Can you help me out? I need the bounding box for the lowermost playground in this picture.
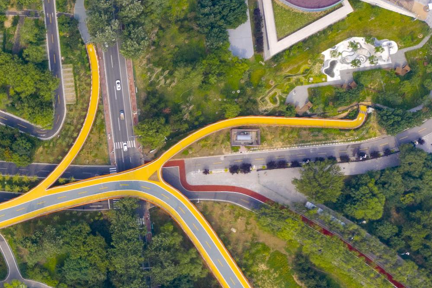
[321,37,398,82]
